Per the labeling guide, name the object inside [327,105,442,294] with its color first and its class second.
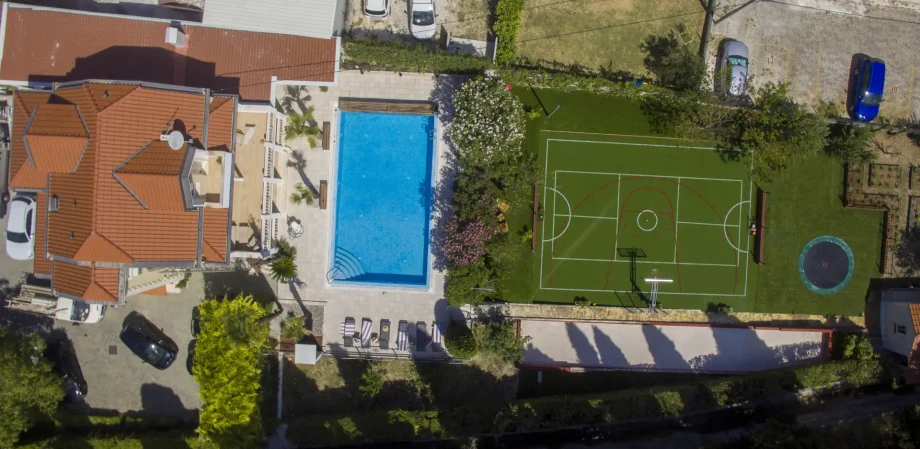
blue swimming pool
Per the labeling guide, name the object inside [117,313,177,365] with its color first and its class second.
black car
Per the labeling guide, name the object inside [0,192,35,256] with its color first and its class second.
white car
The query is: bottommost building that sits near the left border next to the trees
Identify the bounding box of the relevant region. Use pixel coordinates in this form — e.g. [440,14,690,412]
[4,79,298,306]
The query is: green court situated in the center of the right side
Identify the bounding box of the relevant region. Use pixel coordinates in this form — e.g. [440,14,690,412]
[455,82,887,318]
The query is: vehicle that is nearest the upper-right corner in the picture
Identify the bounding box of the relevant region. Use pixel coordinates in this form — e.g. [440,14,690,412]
[848,55,889,119]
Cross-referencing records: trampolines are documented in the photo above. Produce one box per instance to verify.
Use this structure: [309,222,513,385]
[797,237,854,293]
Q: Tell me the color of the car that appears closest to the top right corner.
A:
blue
